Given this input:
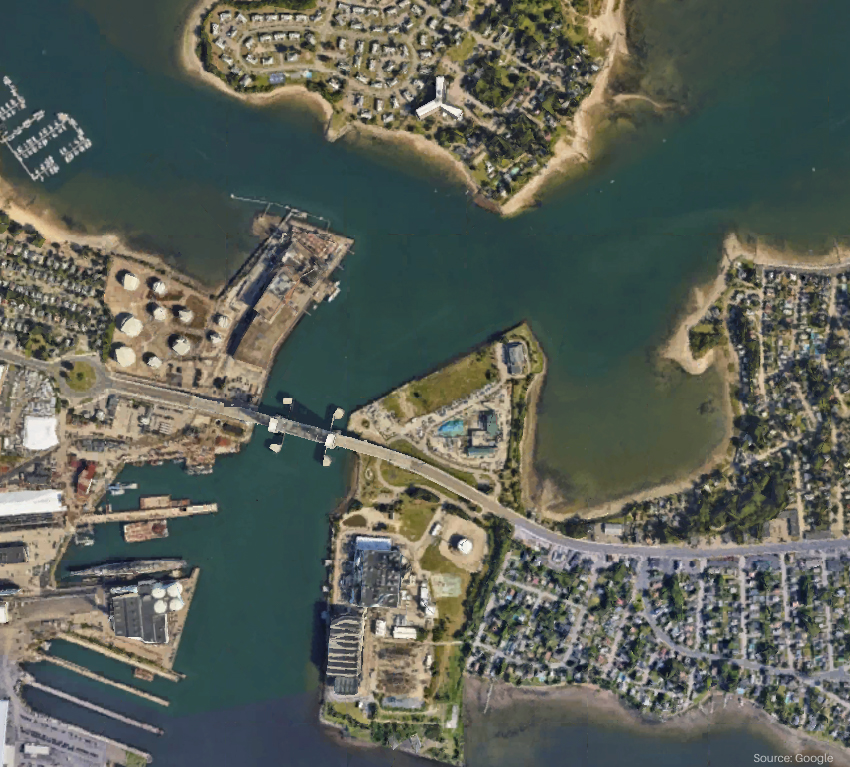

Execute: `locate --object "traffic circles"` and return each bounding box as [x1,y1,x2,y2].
[57,352,105,399]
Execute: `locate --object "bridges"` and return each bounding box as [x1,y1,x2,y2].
[105,377,502,515]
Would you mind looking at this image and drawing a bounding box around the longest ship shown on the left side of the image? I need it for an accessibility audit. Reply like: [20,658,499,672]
[71,559,188,577]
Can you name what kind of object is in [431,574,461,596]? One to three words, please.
sports court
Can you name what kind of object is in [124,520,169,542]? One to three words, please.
ship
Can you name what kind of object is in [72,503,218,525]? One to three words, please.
pier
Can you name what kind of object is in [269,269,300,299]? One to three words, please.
building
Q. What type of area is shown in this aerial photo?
port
